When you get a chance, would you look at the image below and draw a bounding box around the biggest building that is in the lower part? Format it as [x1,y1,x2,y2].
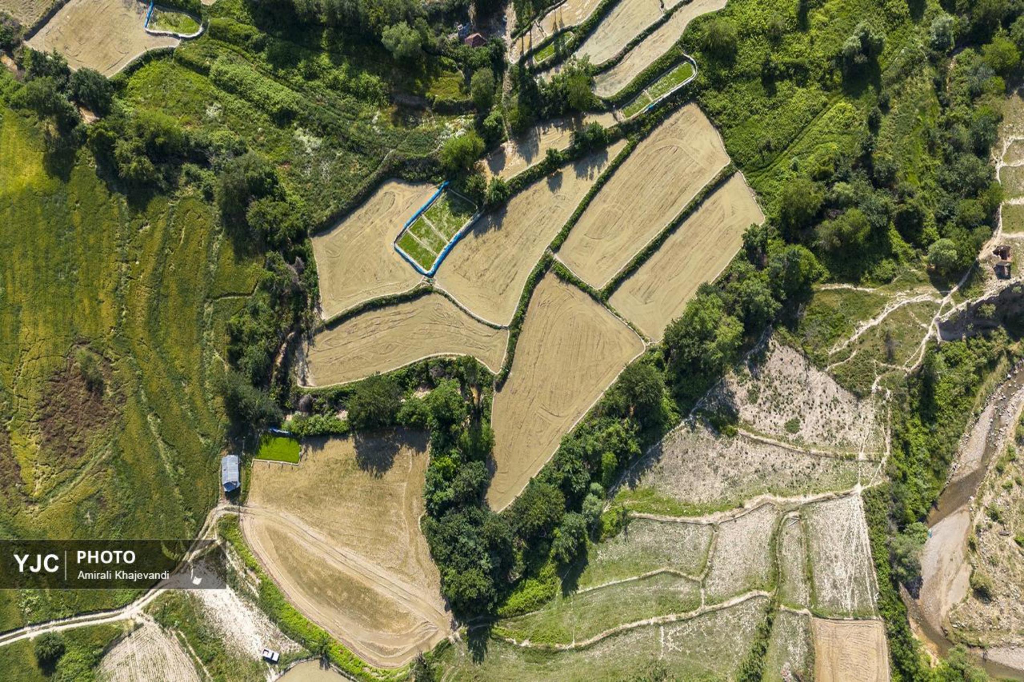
[221,457,242,496]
